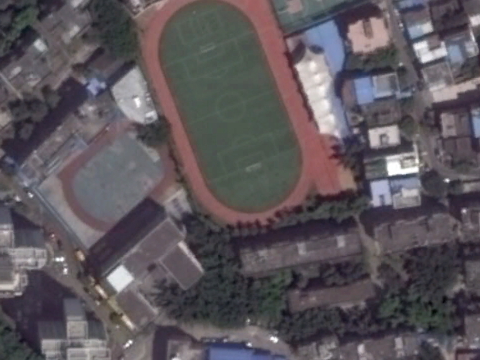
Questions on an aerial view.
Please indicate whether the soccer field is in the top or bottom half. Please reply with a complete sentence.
It is in the top half that the soccer field appears.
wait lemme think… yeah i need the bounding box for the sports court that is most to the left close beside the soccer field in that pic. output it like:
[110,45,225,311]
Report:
[71,133,164,221]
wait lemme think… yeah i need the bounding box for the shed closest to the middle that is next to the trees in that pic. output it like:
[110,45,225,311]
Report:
[165,187,193,221]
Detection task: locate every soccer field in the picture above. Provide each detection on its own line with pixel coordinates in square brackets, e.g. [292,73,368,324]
[163,0,302,213]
